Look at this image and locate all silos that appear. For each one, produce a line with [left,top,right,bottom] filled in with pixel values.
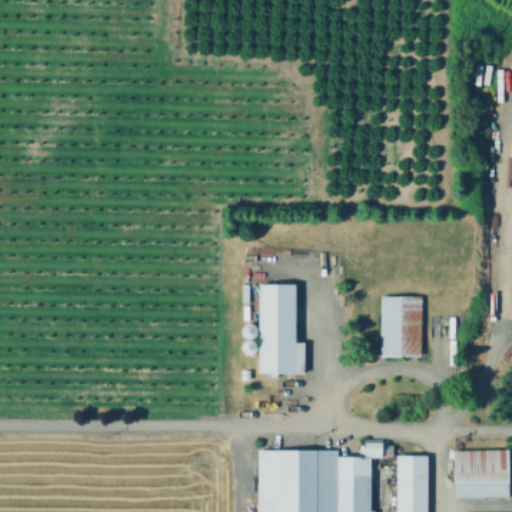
[242,324,258,340]
[242,340,258,356]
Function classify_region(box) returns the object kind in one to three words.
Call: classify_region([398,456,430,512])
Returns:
shed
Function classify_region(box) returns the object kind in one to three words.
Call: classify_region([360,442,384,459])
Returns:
shed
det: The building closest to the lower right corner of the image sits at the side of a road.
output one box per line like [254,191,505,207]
[455,450,510,498]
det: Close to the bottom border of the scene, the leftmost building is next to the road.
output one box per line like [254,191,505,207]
[259,450,338,512]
